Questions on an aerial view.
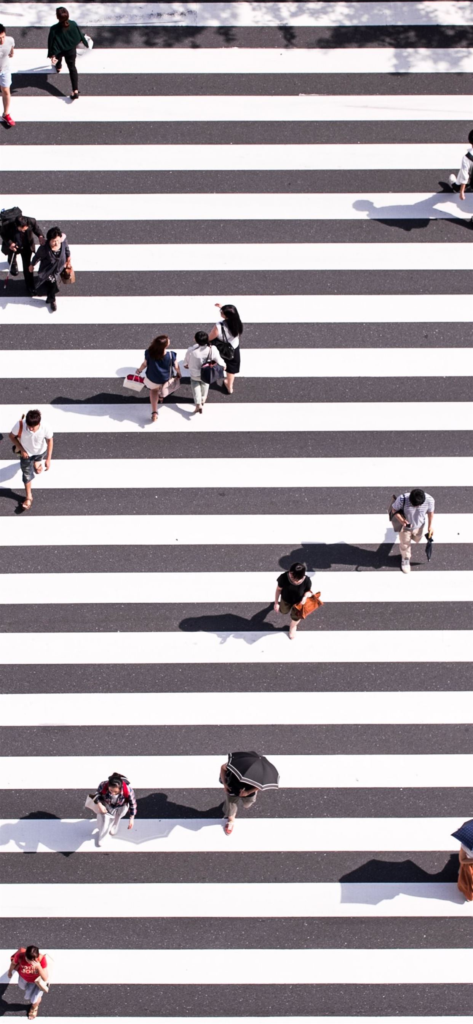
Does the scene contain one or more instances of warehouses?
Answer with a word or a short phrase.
No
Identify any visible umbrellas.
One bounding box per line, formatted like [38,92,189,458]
[425,528,434,560]
[226,746,283,800]
[451,819,473,850]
